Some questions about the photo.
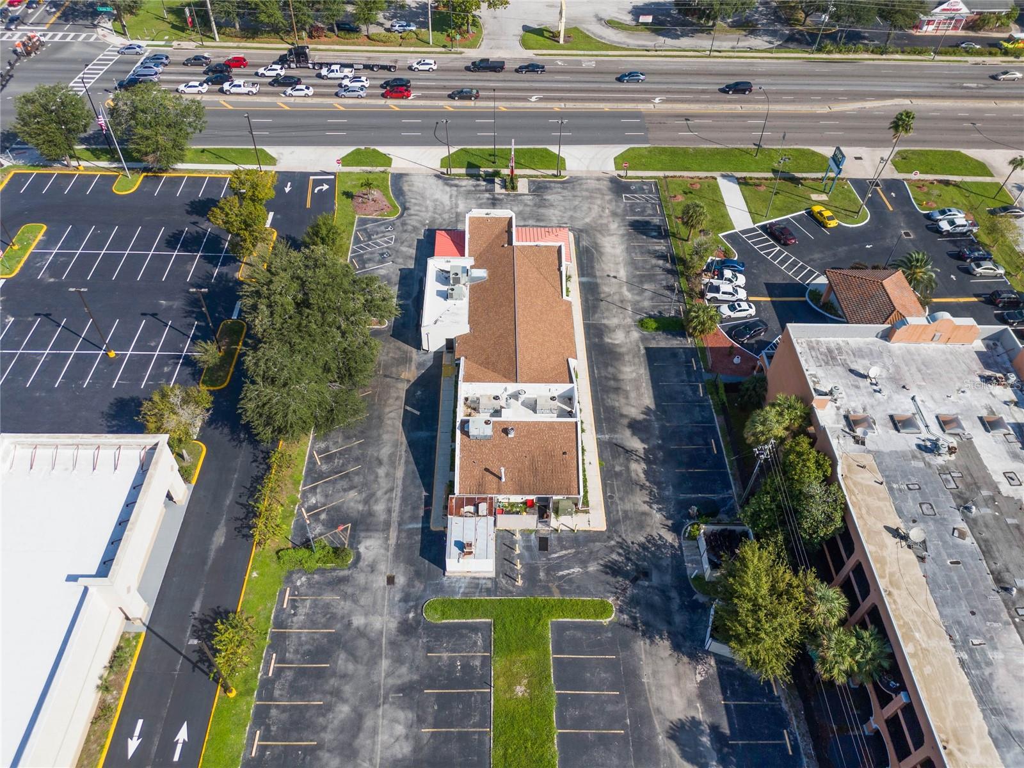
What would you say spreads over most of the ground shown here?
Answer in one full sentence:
The scene is dominated by paved ground.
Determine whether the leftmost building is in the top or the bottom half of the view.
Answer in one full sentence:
The bottom half of the photo is where the leftmost building is.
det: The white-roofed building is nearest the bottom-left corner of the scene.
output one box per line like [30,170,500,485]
[0,434,193,768]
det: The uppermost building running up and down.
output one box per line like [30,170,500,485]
[420,206,595,522]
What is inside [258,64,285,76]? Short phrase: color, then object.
white vehicle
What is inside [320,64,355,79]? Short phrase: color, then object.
white vehicle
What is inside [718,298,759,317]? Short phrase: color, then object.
white car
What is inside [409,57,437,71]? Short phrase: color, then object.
white car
